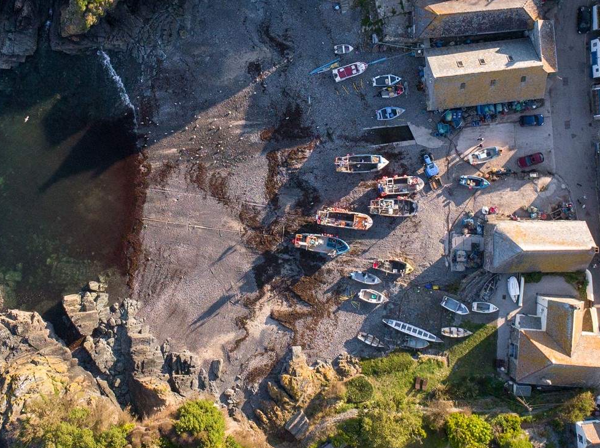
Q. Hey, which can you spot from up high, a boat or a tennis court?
boat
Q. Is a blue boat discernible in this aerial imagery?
Yes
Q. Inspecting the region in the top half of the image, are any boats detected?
Yes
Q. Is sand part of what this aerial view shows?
Yes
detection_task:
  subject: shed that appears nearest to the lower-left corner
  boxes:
[284,407,310,441]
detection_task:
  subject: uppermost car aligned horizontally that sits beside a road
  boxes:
[518,114,544,127]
